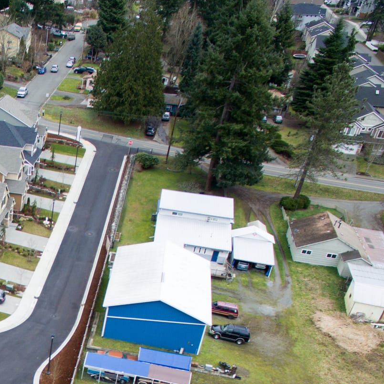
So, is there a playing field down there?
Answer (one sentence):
No, I find no playing field anywhere in the image.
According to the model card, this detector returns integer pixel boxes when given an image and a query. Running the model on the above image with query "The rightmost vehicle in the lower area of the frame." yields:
[250,262,266,275]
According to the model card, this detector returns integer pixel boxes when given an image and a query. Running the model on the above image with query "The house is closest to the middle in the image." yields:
[153,184,234,265]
